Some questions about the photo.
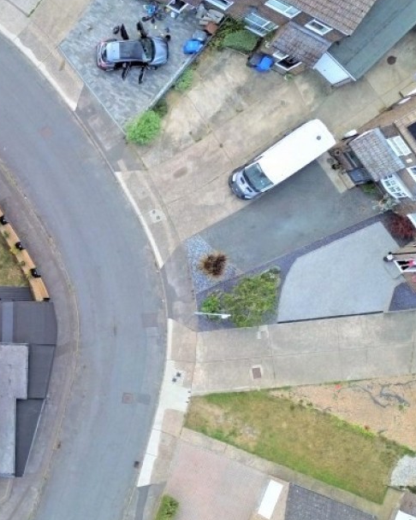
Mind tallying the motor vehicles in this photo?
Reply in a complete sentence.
The count of motor vehicles comes to 2.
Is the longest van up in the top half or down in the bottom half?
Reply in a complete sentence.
You can find the longest van in the top half.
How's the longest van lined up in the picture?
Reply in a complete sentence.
The longest van is oriented on a diagonal.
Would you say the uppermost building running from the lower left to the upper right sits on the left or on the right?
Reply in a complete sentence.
The uppermost building running from the lower left to the upper right is on the right side of the image.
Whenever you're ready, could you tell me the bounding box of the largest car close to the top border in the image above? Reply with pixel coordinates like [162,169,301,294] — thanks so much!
[98,16,171,81]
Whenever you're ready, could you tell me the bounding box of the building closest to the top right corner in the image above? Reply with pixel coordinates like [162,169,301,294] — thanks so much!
[313,0,416,90]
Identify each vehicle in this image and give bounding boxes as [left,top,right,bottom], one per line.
[226,119,337,203]
[98,16,171,81]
